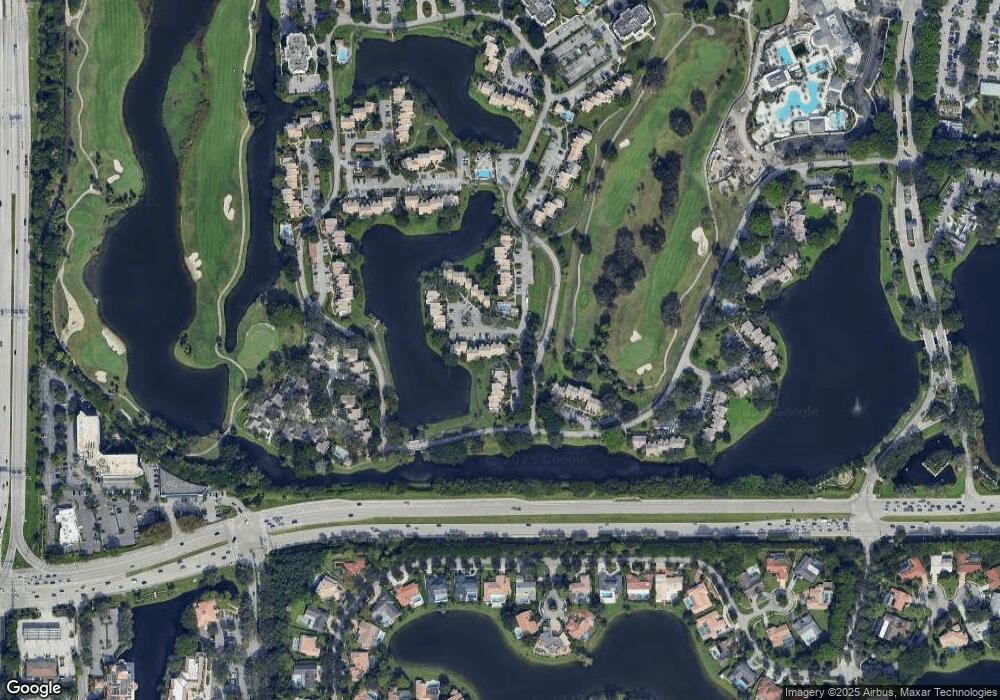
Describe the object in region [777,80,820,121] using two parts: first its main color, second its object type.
blue swimming pool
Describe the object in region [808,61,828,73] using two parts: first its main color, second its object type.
blue swimming pool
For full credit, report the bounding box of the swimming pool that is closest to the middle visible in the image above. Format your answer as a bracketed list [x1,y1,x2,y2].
[498,301,518,316]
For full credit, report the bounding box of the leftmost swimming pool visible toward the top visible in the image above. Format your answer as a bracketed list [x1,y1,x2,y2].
[280,222,293,244]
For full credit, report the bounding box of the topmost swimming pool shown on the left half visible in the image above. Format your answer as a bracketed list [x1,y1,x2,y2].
[336,40,350,64]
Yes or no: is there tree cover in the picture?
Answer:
Yes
